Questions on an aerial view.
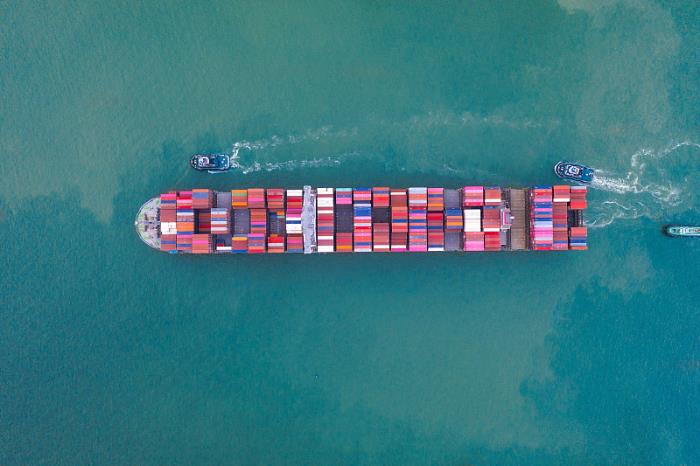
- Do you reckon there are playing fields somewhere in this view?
No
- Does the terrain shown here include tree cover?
No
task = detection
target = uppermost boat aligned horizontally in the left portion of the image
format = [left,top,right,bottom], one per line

[192,154,232,172]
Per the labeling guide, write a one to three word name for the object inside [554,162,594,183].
boat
